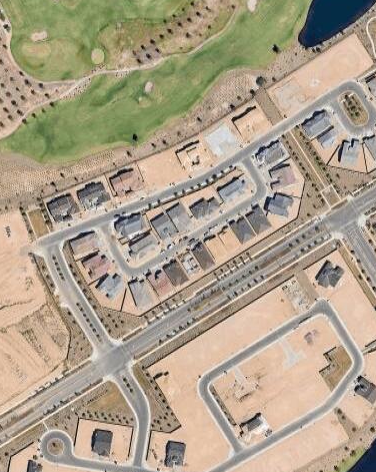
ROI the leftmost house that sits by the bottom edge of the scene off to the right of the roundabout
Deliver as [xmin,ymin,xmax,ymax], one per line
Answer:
[89,428,114,460]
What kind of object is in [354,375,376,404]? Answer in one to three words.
house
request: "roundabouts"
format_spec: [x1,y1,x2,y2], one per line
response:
[38,429,73,464]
